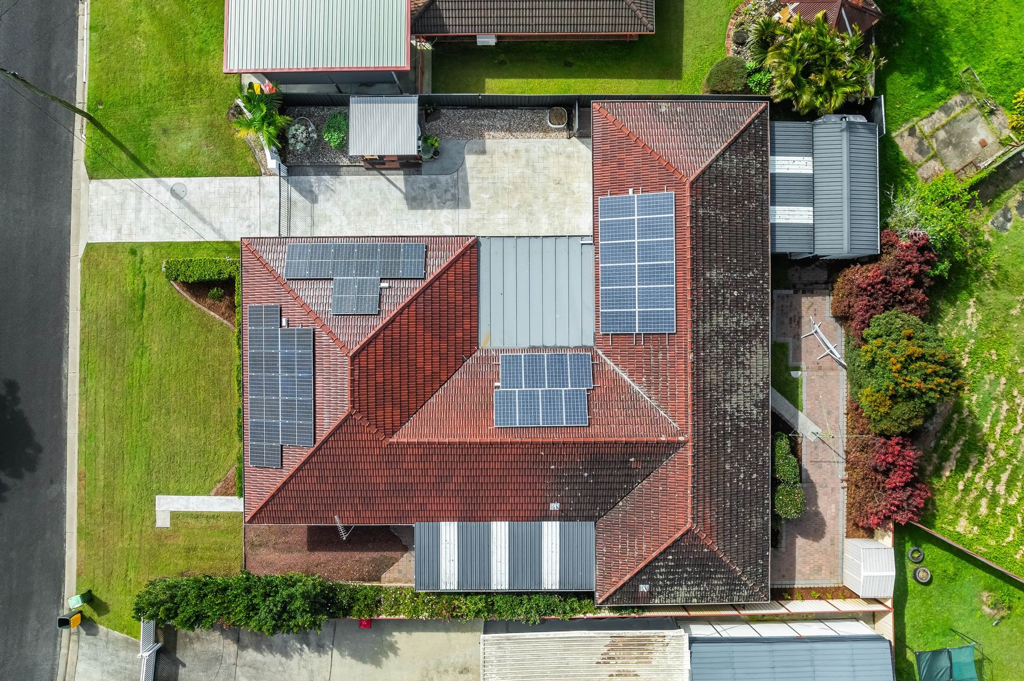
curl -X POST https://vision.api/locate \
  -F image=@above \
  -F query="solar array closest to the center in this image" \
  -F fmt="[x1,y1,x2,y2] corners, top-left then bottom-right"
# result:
[490,352,601,426]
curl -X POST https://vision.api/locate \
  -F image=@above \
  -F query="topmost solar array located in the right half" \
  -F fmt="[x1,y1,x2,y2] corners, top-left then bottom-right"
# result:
[599,185,676,344]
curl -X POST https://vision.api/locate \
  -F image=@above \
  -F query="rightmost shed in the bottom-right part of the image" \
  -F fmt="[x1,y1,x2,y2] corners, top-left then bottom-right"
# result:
[842,536,898,599]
